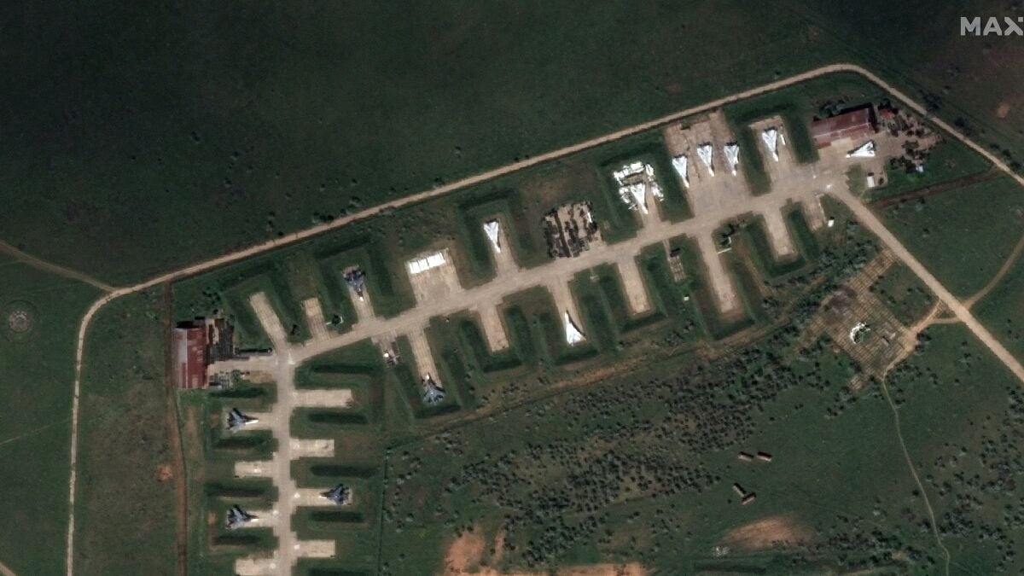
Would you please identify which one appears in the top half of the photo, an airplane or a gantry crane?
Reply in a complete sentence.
You can see an airplane in the top half of the photo.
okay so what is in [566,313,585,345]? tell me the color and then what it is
white airplane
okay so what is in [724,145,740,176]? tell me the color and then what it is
white airplane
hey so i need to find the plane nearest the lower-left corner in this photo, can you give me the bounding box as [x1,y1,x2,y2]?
[228,508,257,528]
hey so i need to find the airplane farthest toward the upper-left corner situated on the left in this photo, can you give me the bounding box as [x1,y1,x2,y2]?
[344,269,364,297]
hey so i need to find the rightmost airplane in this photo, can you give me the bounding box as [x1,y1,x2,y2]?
[848,142,878,157]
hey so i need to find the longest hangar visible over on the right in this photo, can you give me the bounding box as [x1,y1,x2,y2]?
[811,107,876,149]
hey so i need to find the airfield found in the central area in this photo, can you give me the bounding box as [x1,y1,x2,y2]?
[201,97,941,576]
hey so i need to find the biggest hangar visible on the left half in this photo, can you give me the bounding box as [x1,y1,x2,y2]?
[173,326,207,388]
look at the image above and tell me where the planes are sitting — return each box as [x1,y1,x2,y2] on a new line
[228,508,257,528]
[321,485,350,506]
[630,182,647,214]
[763,129,778,161]
[423,375,443,405]
[698,145,713,176]
[344,269,364,297]
[672,155,688,187]
[566,313,585,345]
[724,145,740,176]
[228,410,257,430]
[848,142,878,157]
[484,220,499,251]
